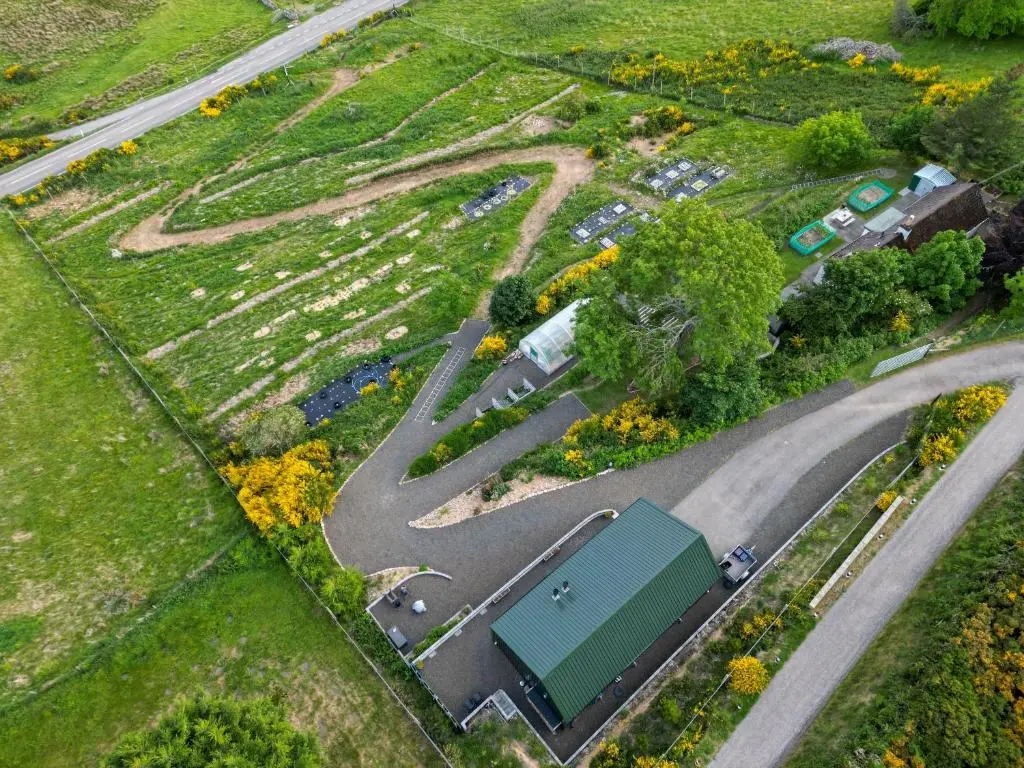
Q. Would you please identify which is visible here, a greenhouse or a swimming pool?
greenhouse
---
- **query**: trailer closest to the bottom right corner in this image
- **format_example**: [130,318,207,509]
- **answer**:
[717,543,757,584]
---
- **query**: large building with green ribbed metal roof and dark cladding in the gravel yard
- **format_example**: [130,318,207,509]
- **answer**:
[490,498,722,730]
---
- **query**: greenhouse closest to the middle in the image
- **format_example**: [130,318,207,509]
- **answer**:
[517,292,595,374]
